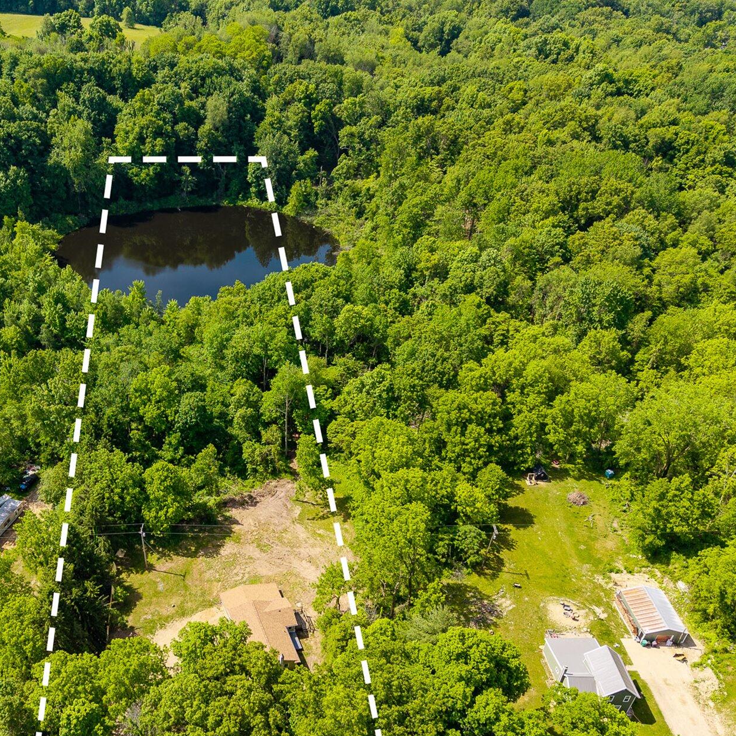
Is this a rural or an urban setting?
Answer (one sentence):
The area shown here is rural.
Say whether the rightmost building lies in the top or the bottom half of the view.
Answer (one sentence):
It is in the bottom half that the rightmost building appears.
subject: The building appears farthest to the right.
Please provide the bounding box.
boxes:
[619,585,686,645]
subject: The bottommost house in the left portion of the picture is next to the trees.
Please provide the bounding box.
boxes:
[219,582,305,678]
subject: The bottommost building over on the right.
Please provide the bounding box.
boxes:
[542,638,641,717]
